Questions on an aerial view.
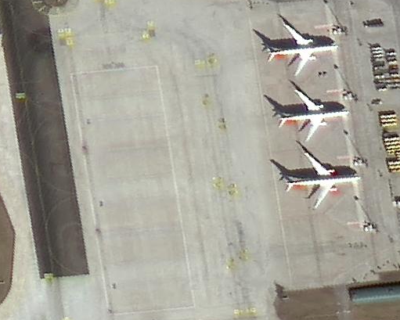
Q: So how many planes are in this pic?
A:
three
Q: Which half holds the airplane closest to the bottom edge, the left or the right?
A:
right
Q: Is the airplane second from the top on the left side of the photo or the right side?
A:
right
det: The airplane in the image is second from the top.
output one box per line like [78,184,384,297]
[281,88,350,146]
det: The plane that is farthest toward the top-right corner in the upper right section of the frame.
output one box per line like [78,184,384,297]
[269,22,338,80]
